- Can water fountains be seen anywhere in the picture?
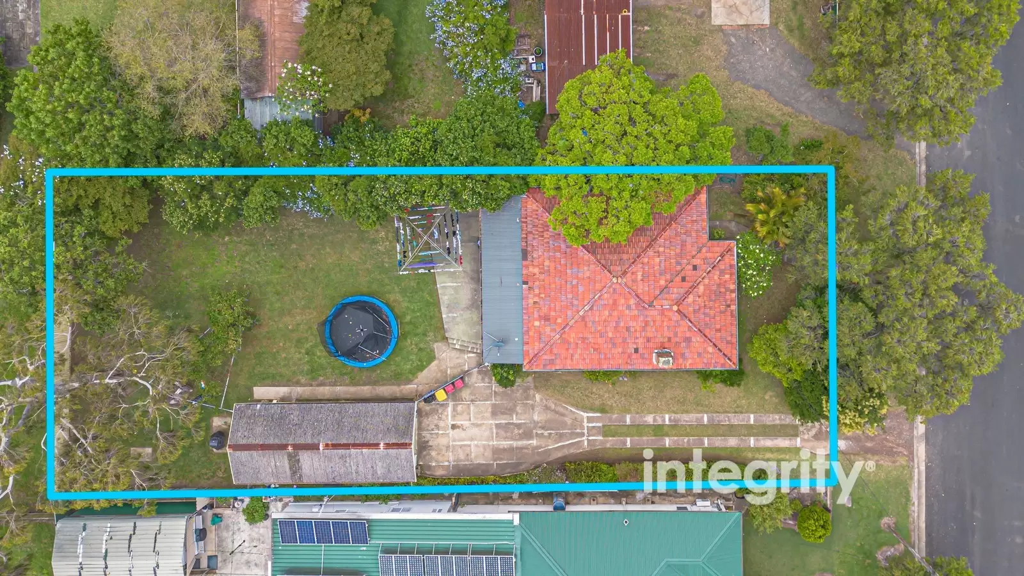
No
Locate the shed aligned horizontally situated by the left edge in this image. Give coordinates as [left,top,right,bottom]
[47,505,213,576]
